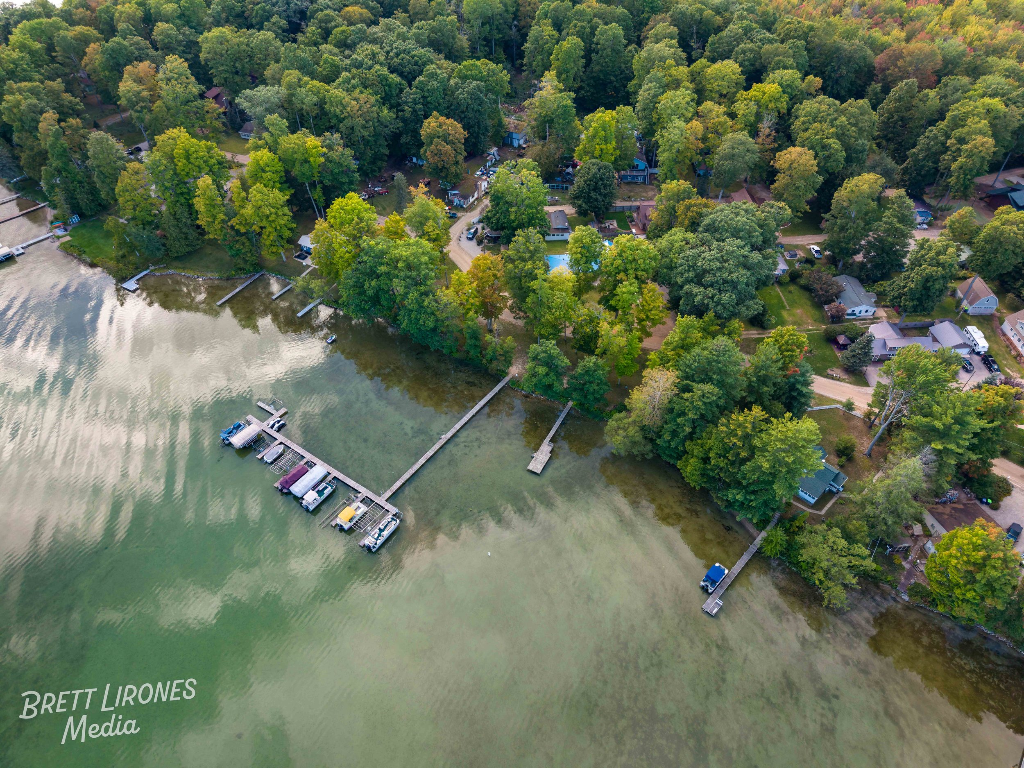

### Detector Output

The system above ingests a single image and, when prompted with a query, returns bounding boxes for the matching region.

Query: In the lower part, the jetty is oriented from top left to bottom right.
[245,402,398,549]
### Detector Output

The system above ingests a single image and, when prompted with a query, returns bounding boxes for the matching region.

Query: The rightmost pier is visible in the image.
[702,530,768,617]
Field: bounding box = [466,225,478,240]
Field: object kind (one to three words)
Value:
vehicle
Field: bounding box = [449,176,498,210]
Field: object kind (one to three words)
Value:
house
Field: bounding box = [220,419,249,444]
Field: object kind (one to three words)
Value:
boat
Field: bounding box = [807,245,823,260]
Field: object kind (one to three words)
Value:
vehicle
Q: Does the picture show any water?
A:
Yes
